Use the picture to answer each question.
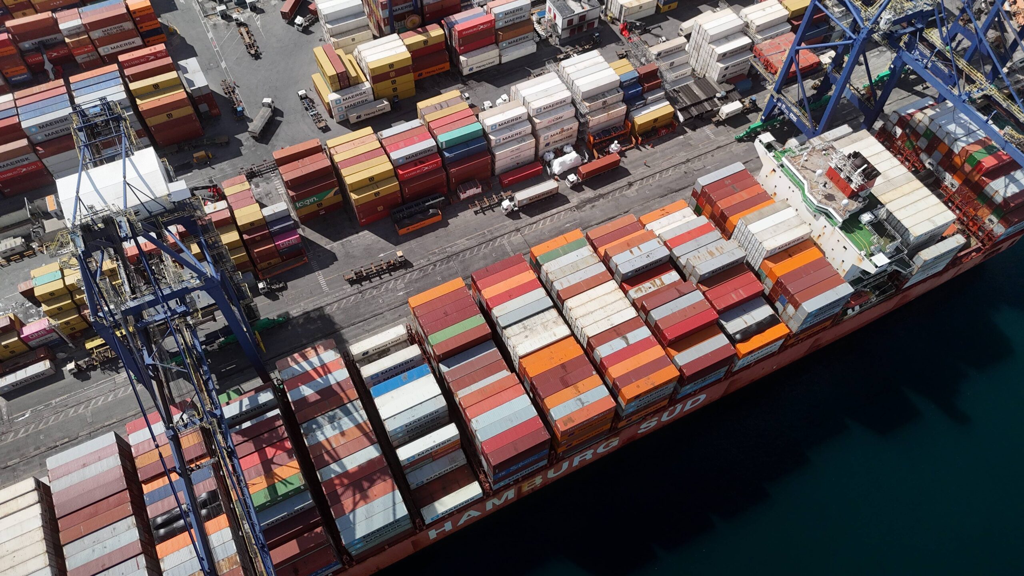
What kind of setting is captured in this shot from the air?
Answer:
port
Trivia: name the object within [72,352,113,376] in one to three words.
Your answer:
truck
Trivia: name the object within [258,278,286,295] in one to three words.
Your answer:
vehicle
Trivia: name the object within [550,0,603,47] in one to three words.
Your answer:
building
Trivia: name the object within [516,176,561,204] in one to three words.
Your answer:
shipping container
